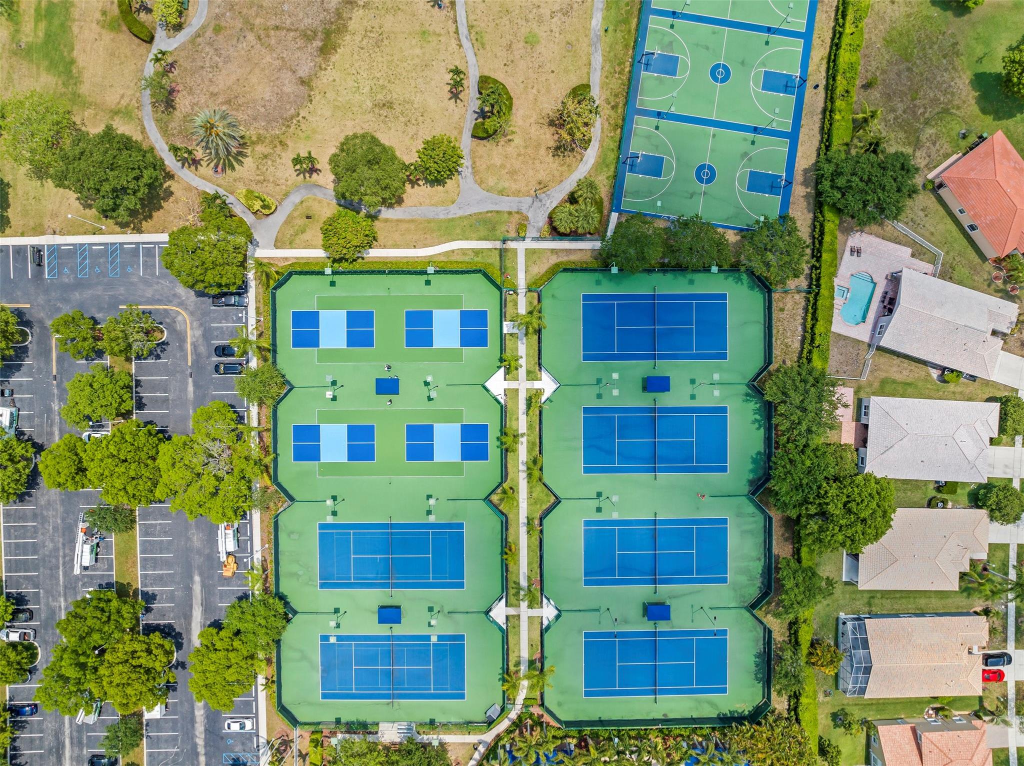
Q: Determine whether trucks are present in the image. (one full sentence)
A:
Yes, there is a truck in the image.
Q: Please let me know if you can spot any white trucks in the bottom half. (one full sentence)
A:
Yes, there is a white truck in the bottom half.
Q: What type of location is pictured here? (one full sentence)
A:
The area seen from above is a sports ground.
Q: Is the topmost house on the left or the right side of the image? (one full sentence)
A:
The topmost house sits on the right side.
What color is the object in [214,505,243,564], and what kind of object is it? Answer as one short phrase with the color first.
white truck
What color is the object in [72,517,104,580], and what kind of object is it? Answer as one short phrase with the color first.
white truck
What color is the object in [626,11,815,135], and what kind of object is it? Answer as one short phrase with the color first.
green basketball court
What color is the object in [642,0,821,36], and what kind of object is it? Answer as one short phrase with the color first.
green basketball court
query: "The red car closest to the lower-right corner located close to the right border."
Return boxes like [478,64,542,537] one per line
[982,668,1006,683]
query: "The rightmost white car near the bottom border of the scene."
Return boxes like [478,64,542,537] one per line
[224,716,255,732]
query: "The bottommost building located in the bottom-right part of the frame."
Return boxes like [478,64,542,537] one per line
[872,712,993,766]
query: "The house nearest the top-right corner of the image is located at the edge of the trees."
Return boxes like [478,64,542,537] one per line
[935,129,1024,258]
